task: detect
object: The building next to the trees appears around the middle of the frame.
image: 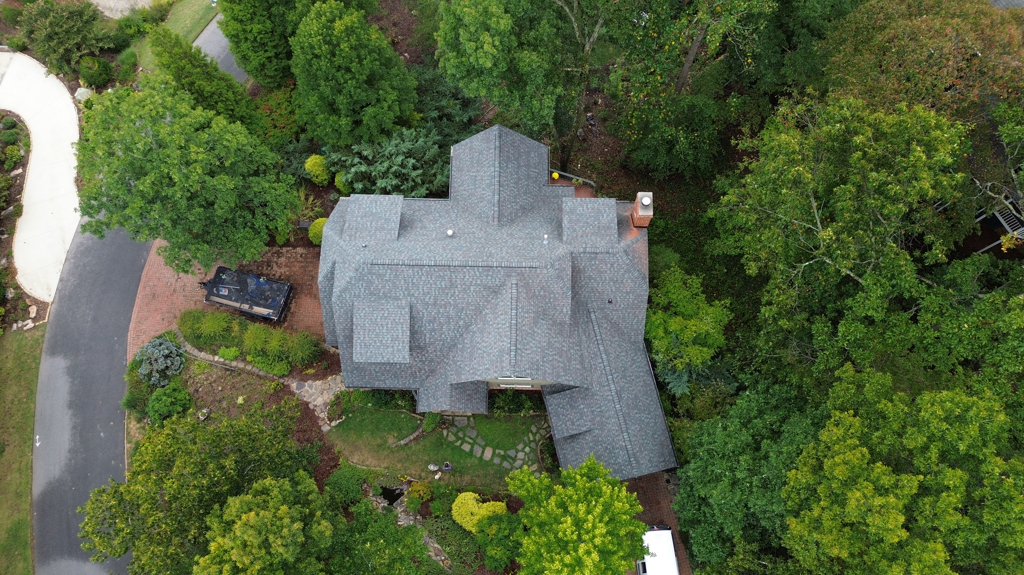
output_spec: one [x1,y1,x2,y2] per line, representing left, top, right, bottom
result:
[318,125,681,489]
